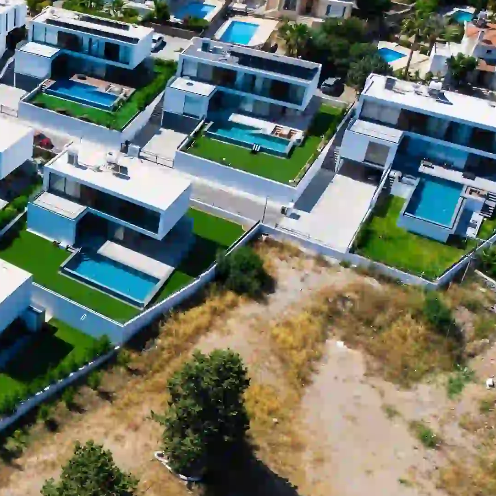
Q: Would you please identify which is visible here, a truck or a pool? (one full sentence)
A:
Looking from above, you can make out a pool.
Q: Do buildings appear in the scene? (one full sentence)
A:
Yes, a building can be made out from above.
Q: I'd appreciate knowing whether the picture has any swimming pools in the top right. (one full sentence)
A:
Yes, a swimming pool shows up in the top right.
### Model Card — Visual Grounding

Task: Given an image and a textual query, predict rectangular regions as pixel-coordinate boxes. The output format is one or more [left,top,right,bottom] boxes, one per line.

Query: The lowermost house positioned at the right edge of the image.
[325,68,496,180]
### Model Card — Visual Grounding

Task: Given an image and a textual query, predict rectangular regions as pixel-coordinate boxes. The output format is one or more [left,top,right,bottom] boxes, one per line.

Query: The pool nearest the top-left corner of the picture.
[37,74,136,114]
